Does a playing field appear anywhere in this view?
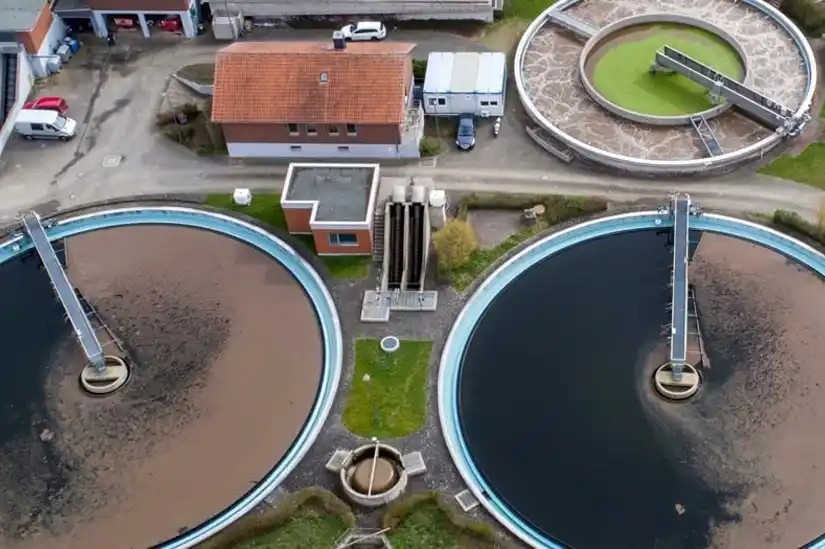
No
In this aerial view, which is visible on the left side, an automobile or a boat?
automobile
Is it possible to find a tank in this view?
Yes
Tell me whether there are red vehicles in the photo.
Yes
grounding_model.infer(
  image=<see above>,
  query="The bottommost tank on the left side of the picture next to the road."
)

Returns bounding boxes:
[0,206,343,549]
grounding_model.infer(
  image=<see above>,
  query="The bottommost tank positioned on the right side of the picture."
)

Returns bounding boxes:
[437,210,825,549]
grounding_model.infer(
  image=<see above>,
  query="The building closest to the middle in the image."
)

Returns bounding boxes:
[371,178,450,289]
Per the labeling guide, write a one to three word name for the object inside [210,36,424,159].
house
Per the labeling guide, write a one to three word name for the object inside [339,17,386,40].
car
